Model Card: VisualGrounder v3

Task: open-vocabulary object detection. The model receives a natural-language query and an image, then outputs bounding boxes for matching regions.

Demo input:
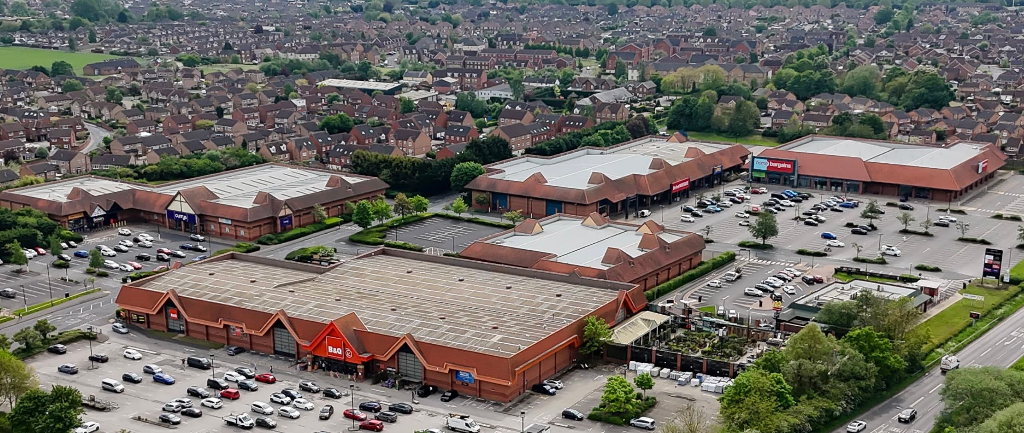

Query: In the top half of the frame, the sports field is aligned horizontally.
[0,47,138,70]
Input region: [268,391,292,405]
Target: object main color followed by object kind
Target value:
white car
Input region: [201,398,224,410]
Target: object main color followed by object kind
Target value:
white vehicle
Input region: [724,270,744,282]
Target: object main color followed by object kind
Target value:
white vehicle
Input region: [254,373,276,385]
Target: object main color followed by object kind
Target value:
red vehicle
